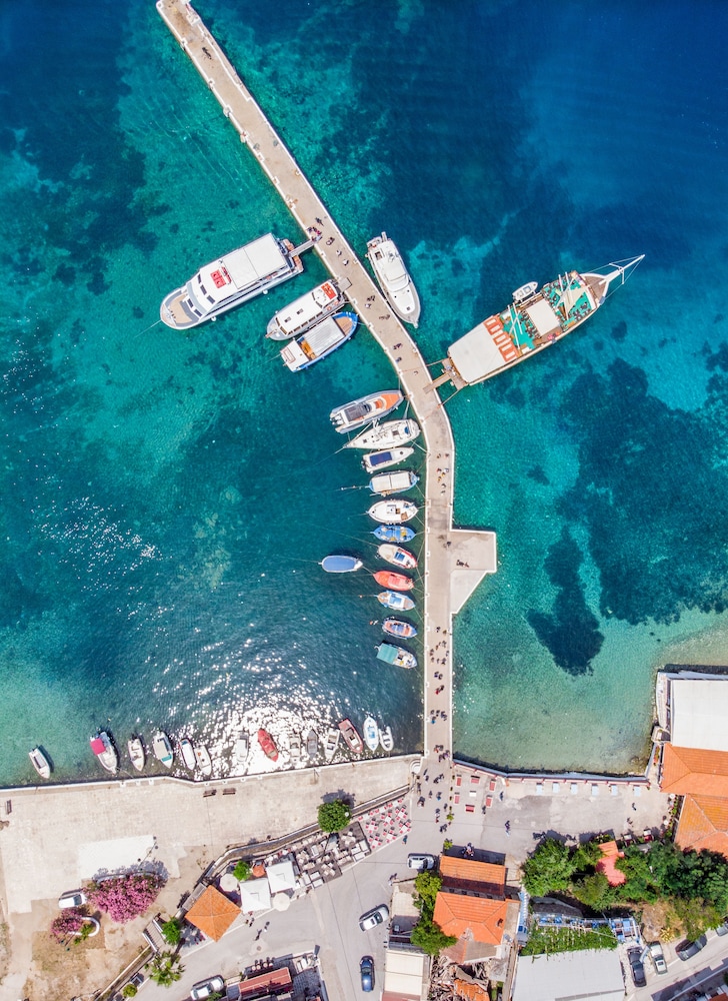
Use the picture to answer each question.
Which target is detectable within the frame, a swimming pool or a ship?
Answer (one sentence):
The one in the frame is a ship.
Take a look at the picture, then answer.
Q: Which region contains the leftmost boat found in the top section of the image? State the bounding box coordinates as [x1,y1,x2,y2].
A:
[158,234,304,325]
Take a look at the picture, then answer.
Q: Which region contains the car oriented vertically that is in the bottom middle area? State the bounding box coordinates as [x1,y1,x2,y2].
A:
[359,958,376,996]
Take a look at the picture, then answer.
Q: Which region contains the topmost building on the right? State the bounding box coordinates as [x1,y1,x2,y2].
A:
[651,663,728,751]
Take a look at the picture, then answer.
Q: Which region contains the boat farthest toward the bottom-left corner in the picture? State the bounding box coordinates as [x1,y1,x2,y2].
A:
[27,748,51,779]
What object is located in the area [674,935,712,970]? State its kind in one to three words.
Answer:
car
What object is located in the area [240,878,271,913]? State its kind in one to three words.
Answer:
umbrella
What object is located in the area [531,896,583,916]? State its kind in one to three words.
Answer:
shed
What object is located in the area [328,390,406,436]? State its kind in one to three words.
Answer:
boat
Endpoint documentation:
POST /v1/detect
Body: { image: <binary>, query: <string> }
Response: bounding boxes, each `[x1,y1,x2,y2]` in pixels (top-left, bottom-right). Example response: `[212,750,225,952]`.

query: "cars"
[626,949,651,992]
[674,935,712,970]
[649,942,672,980]
[188,977,225,1001]
[53,891,87,913]
[406,854,441,875]
[356,905,391,936]
[359,958,376,996]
